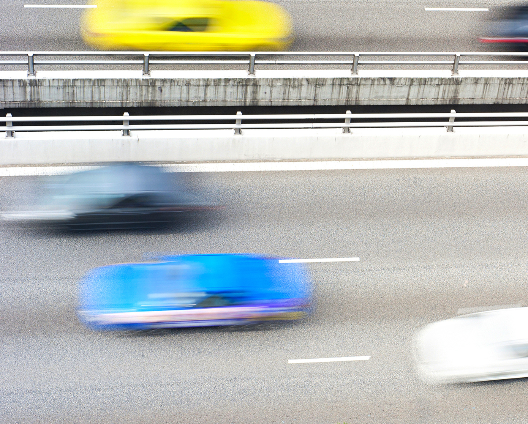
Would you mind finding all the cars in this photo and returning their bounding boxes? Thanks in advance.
[414,303,528,391]
[14,157,203,237]
[83,250,308,336]
[482,0,528,60]
[92,0,281,60]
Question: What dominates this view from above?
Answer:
paved ground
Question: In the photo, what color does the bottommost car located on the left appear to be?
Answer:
blue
